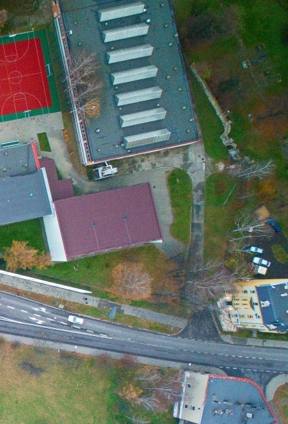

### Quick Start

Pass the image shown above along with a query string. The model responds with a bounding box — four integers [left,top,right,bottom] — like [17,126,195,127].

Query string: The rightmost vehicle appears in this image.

[270,218,284,233]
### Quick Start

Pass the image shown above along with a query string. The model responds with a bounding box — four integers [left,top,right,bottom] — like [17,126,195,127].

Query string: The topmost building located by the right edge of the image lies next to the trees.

[205,277,288,330]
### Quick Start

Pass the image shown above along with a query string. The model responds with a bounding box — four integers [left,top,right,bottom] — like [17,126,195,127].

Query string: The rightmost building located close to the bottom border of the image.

[177,370,279,424]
